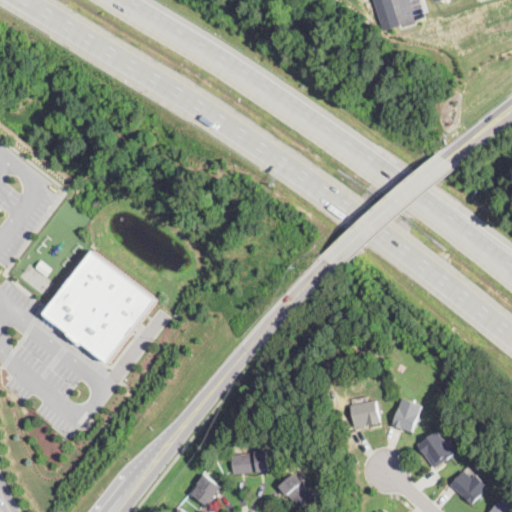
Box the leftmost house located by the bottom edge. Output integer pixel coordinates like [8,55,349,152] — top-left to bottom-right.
[190,476,220,512]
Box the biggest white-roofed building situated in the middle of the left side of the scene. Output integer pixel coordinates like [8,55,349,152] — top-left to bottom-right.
[41,250,160,364]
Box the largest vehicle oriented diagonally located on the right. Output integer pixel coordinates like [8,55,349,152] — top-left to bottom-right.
[322,199,350,221]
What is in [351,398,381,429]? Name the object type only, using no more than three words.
house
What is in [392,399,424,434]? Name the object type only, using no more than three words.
house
